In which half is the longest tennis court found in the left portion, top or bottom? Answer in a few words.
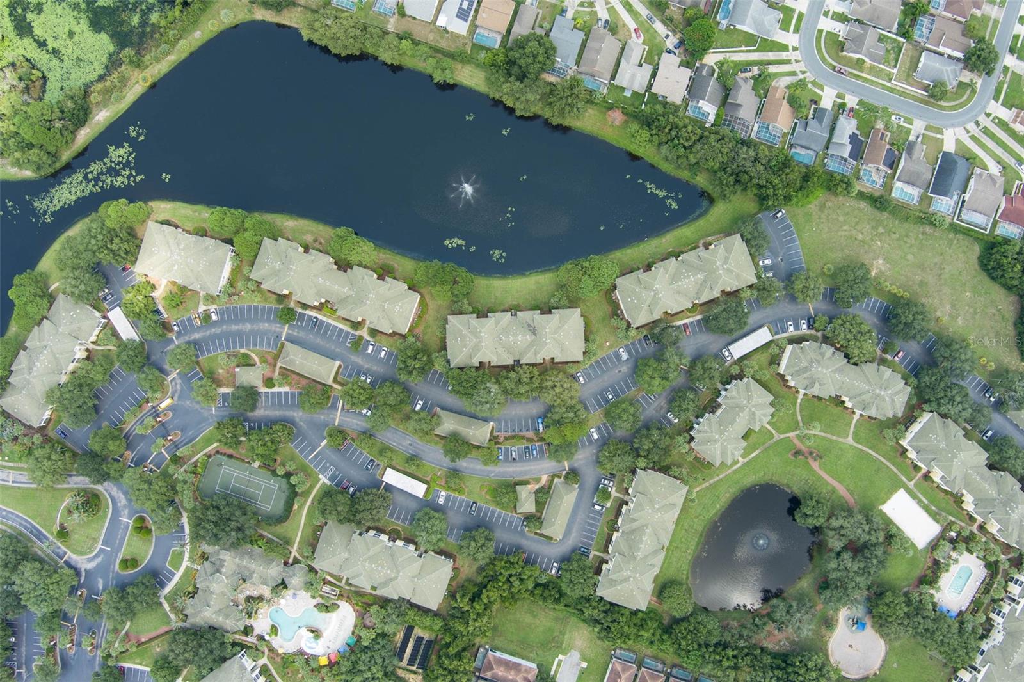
bottom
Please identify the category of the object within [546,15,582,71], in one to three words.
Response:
house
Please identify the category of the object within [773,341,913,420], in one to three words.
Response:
building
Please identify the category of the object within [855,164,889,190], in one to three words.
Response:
swimming pool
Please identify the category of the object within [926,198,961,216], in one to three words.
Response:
swimming pool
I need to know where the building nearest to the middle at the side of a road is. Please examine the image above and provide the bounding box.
[447,305,586,367]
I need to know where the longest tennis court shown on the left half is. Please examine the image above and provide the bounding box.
[197,454,289,523]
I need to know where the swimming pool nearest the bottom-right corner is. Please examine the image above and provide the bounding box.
[938,552,990,613]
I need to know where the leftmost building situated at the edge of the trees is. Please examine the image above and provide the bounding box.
[0,292,113,426]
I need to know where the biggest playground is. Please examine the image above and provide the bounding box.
[828,605,888,679]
